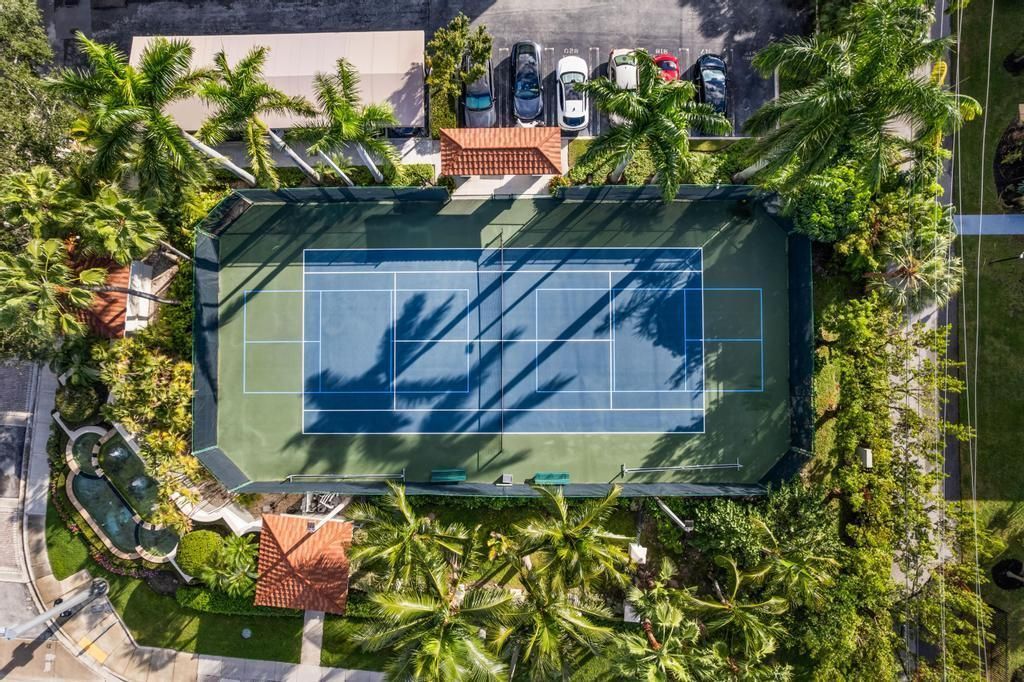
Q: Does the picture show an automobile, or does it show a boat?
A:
automobile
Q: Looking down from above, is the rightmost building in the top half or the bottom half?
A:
top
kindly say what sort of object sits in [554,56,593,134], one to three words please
car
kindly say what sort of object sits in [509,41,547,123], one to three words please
car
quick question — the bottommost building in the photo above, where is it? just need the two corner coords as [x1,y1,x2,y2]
[252,505,362,615]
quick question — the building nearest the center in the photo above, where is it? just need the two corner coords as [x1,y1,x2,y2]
[439,126,563,184]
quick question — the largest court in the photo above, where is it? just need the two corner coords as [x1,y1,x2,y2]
[217,202,792,484]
